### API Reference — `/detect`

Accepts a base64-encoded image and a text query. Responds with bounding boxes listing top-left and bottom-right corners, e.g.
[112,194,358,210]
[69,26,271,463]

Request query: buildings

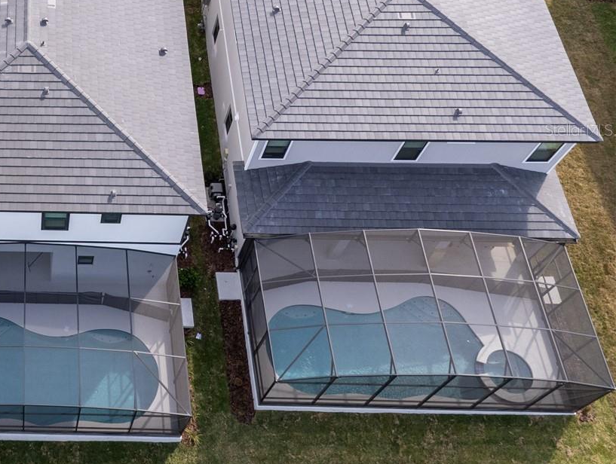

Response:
[201,0,603,266]
[0,0,211,281]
